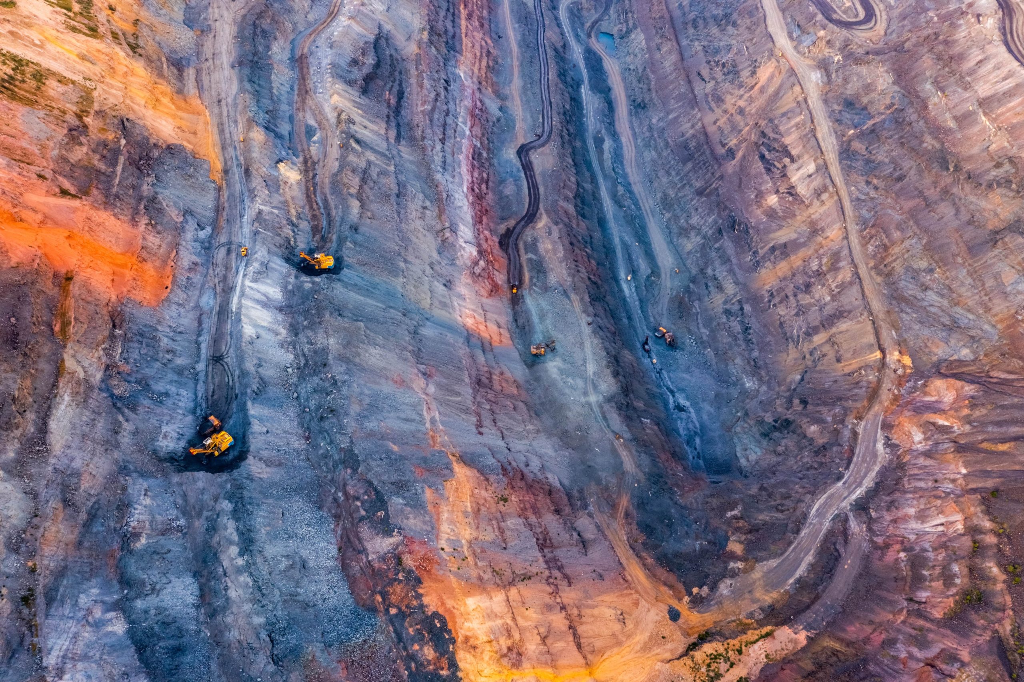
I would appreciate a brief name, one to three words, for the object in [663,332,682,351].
work vehicle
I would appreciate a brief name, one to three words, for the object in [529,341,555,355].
work vehicle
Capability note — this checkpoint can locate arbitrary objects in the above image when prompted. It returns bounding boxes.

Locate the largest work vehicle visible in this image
[178,428,227,458]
